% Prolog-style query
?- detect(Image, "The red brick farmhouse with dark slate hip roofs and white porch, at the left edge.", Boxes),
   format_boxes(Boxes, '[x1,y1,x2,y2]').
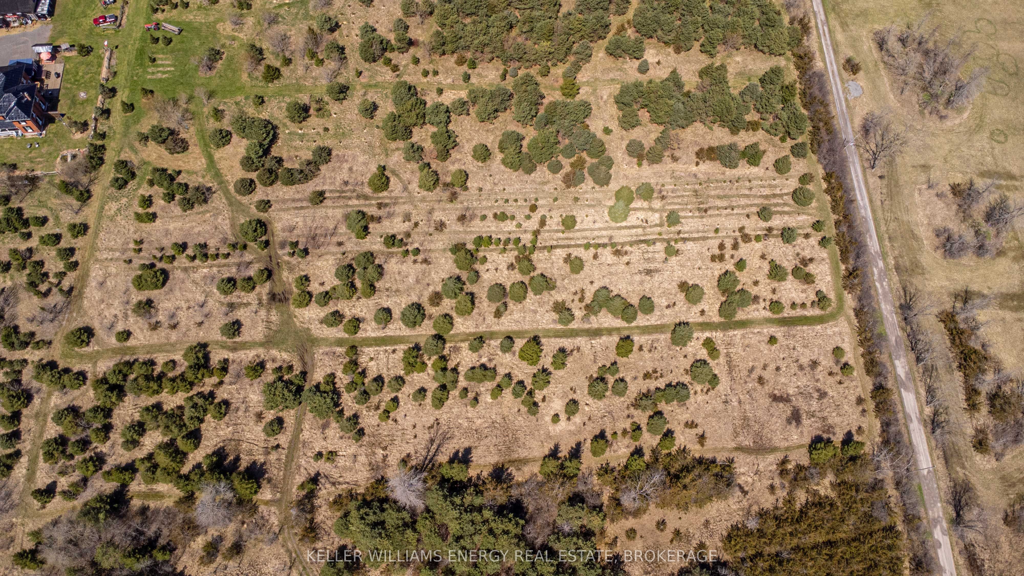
[0,59,50,141]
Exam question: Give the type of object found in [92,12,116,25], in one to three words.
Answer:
vehicle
